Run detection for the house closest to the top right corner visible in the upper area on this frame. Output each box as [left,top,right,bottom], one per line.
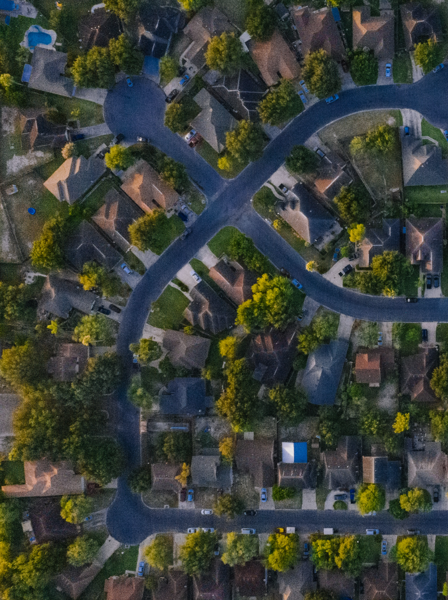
[398,2,441,46]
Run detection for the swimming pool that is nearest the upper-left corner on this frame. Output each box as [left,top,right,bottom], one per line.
[21,24,56,48]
